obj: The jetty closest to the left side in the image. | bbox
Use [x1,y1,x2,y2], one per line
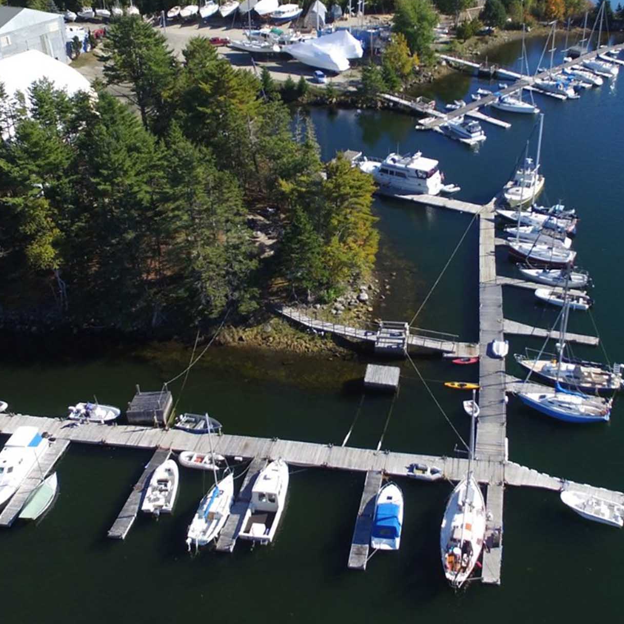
[0,440,70,529]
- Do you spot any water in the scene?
Yes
